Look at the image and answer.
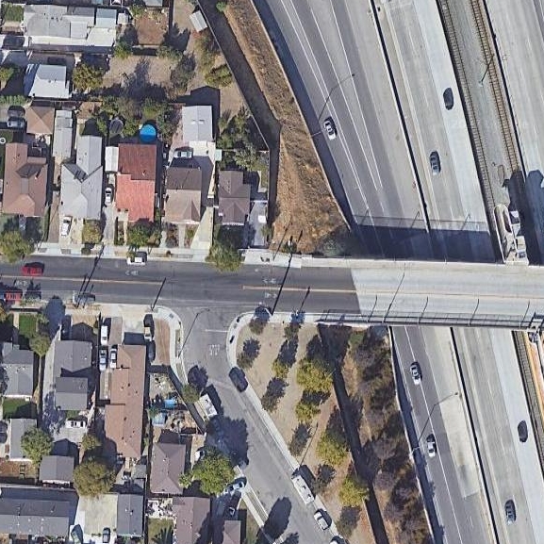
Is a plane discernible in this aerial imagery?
No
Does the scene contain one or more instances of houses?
Yes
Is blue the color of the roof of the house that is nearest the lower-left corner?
No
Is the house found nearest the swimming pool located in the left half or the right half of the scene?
left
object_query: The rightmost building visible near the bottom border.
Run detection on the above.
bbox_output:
[215,520,242,544]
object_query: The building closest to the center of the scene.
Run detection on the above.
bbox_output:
[218,170,250,224]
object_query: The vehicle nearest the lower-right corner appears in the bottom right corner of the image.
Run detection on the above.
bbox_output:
[504,499,516,522]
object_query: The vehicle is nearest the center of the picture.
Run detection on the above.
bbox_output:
[230,366,247,389]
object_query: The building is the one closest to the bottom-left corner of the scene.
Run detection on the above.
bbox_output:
[0,485,70,534]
